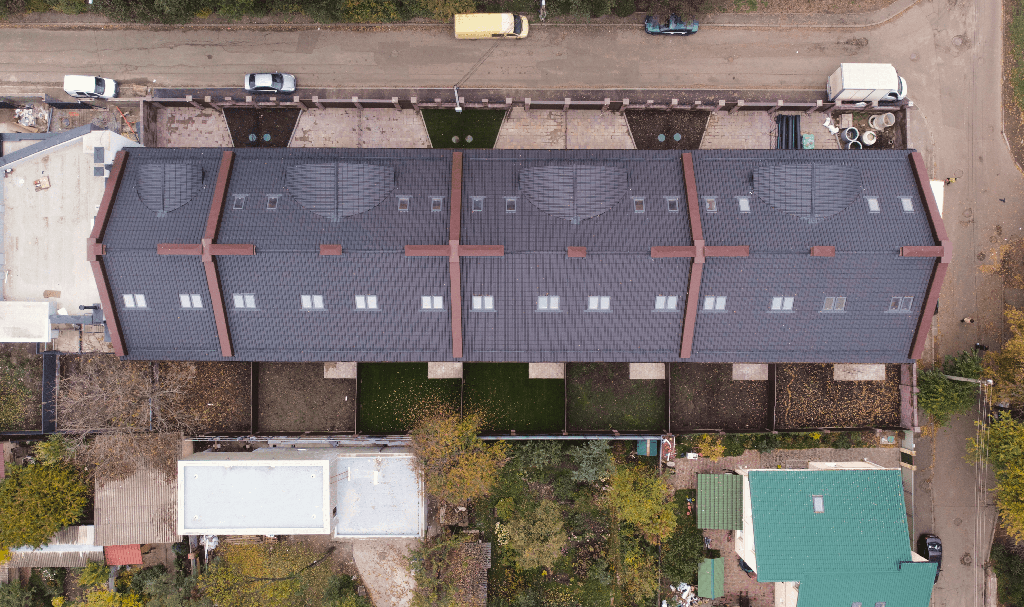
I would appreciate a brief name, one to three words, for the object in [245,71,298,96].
car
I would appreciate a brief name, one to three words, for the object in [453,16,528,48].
van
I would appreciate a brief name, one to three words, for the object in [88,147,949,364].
house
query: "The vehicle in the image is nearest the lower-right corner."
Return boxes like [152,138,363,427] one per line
[917,532,944,584]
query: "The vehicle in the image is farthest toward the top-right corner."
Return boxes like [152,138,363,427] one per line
[823,63,909,99]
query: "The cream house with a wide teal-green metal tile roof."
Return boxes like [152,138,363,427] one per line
[736,458,937,607]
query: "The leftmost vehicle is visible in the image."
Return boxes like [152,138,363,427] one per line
[58,75,122,100]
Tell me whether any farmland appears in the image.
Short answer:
No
